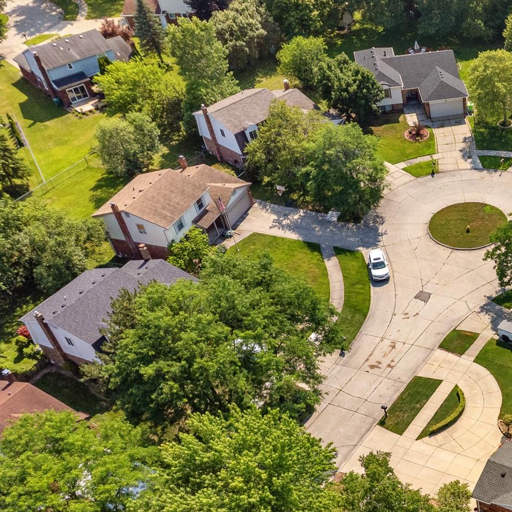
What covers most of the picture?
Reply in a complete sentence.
Most of the picture is covered by trees.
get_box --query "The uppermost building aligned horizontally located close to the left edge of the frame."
[5,30,149,104]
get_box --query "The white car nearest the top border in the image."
[366,251,388,281]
